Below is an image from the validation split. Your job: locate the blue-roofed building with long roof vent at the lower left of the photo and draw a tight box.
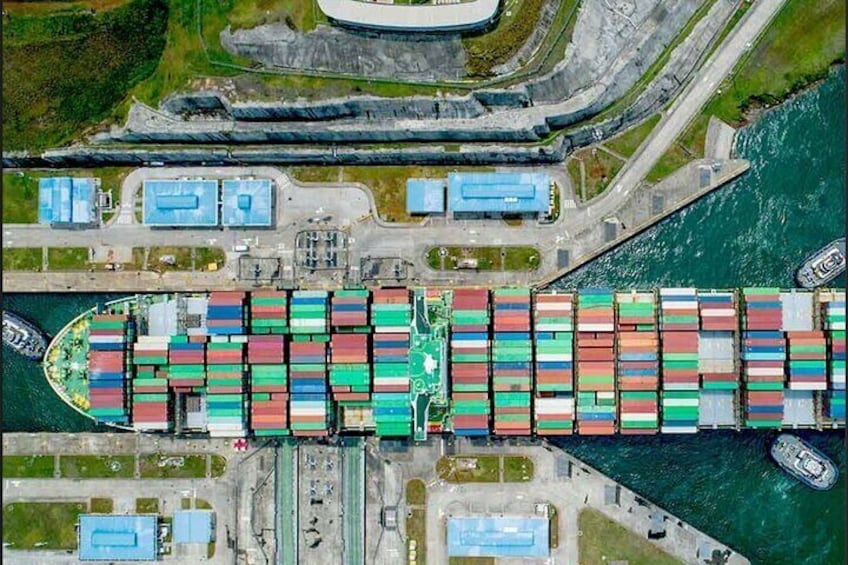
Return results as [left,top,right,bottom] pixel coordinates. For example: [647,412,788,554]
[77,513,163,560]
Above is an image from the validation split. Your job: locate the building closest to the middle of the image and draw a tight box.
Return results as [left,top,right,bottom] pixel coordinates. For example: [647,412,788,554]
[407,179,445,213]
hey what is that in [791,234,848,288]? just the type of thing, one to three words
boat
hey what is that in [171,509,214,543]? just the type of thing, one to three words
building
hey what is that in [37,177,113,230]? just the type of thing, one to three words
building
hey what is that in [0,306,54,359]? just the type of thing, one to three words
boat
